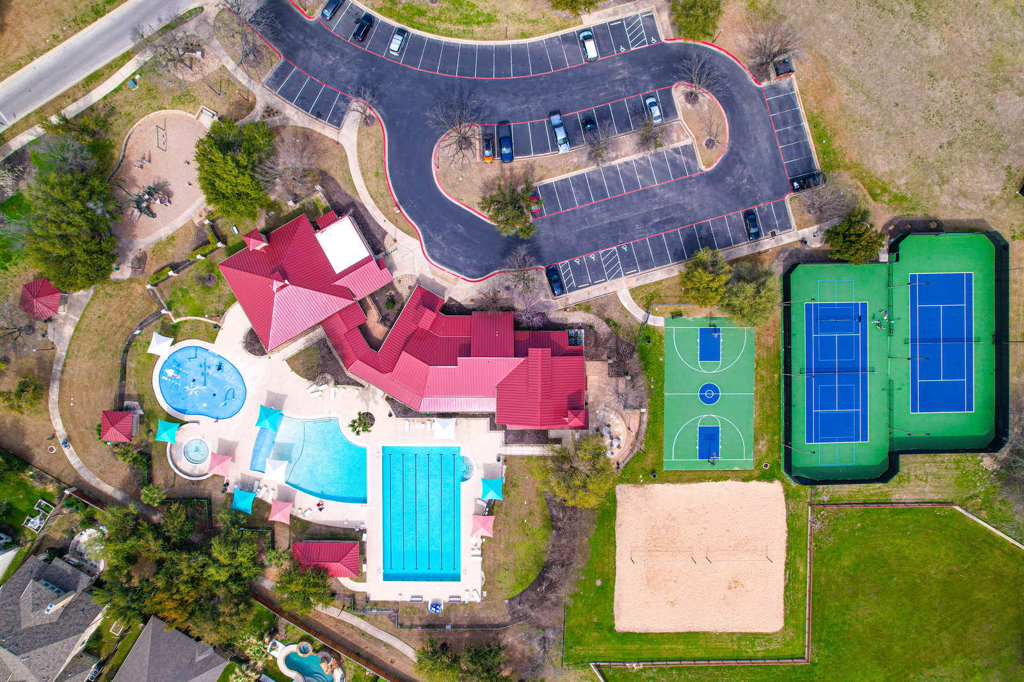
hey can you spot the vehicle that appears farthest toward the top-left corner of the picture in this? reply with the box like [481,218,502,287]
[320,0,344,22]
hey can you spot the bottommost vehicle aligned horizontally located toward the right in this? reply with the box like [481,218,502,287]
[789,172,825,191]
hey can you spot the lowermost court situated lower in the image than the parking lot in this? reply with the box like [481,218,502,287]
[613,479,787,634]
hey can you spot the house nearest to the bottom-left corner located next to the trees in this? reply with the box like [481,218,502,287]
[0,555,108,682]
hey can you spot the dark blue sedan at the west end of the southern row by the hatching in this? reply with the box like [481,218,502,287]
[546,266,563,295]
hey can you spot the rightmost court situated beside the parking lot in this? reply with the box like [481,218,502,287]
[889,234,995,452]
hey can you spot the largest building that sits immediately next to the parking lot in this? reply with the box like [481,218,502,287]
[320,284,589,430]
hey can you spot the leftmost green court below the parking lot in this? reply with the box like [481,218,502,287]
[664,317,755,470]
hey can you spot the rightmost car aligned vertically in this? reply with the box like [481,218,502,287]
[743,210,759,239]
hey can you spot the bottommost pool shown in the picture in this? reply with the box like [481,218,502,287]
[277,641,346,682]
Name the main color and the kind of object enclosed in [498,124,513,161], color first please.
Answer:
blue vehicle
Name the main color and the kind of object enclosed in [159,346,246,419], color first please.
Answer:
blue swimming pool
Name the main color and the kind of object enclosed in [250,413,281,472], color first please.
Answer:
blue swimming pool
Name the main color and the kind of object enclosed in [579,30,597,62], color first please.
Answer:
white car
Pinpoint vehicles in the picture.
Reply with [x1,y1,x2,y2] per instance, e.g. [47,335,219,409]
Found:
[583,117,597,142]
[743,210,759,239]
[352,12,374,42]
[645,96,661,125]
[482,136,495,160]
[546,266,563,295]
[498,124,513,161]
[390,28,407,59]
[550,113,569,151]
[789,172,825,191]
[320,0,344,22]
[579,30,597,62]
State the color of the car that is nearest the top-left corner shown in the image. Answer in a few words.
blue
